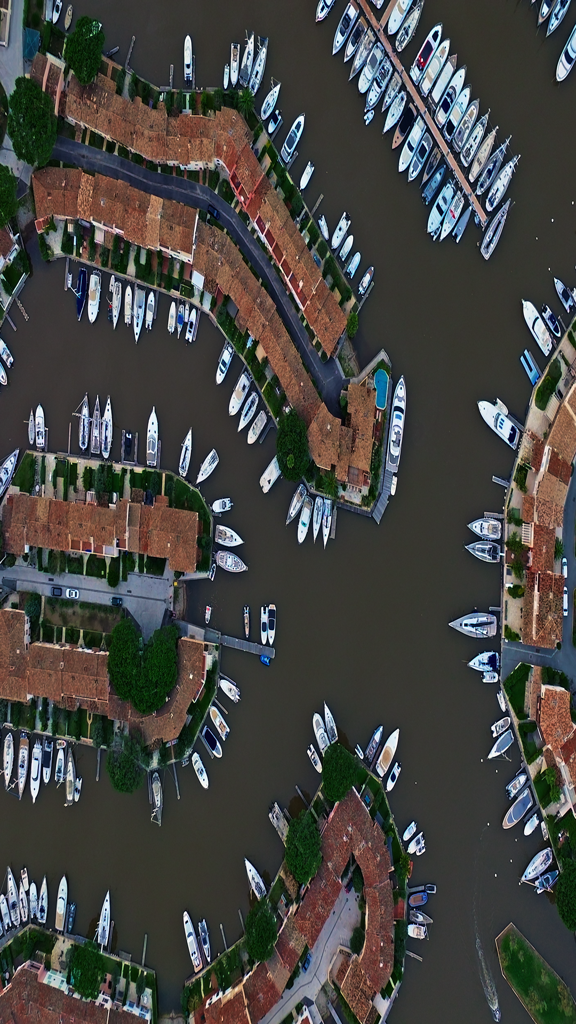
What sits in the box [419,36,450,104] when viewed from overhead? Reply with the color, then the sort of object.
white boat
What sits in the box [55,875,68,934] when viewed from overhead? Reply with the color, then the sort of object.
white boat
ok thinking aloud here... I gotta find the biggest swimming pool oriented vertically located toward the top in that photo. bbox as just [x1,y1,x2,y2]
[373,368,389,410]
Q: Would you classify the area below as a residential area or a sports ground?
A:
residential area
